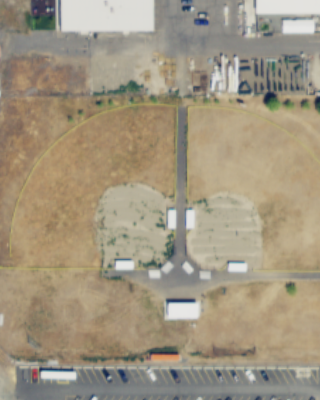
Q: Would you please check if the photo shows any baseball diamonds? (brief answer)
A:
Yes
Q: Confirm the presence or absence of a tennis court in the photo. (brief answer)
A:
No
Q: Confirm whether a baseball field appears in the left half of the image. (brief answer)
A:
Yes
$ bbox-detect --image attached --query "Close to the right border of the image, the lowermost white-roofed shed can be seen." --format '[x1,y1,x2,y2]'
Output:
[282,20,316,34]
